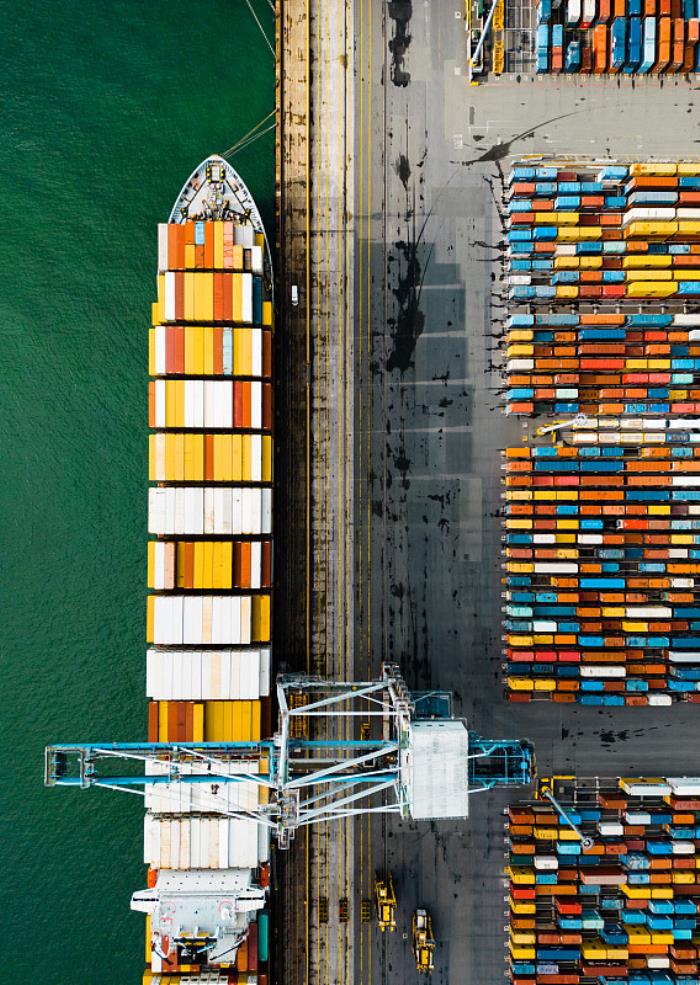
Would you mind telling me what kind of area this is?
port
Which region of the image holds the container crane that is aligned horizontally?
bottom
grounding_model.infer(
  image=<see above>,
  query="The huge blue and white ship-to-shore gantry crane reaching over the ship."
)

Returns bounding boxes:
[43,646,540,849]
